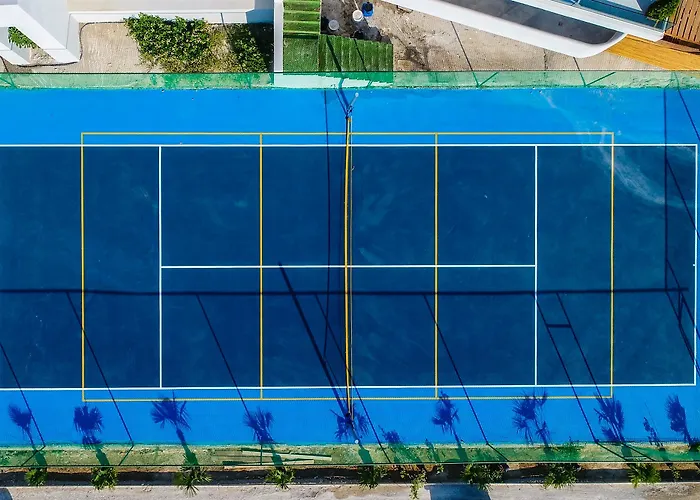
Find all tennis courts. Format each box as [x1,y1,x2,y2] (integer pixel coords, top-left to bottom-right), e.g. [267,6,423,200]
[0,88,700,446]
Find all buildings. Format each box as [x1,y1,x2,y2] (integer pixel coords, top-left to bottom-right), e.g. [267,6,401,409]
[0,0,79,62]
[391,0,679,56]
